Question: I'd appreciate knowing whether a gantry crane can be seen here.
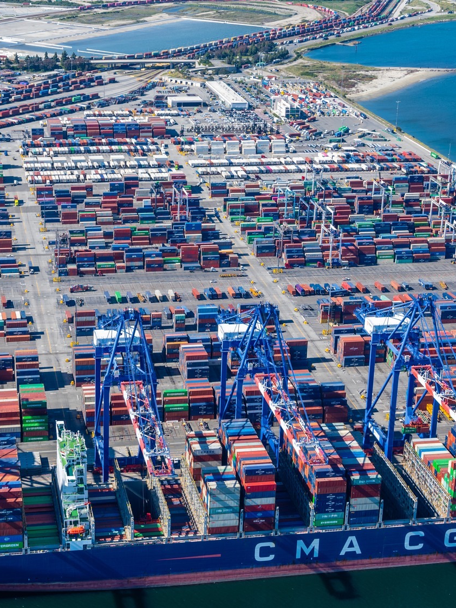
Yes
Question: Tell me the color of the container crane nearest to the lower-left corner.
blue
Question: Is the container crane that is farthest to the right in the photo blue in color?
Yes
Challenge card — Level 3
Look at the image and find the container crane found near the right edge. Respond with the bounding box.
[353,292,456,465]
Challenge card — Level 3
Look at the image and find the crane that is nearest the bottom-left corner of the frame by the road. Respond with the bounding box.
[87,304,179,534]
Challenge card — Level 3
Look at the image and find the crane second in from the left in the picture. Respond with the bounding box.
[213,299,337,472]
